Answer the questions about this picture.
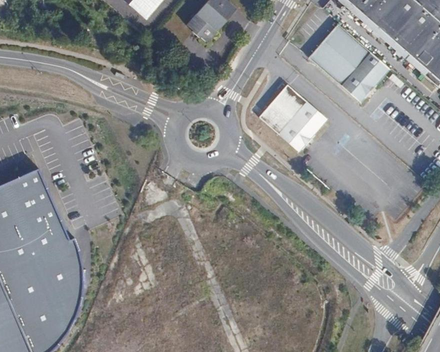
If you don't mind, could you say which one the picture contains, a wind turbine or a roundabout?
roundabout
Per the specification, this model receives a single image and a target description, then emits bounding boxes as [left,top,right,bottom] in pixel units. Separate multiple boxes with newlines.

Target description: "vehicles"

[68,212,79,218]
[52,173,63,180]
[10,114,18,124]
[88,162,100,170]
[406,92,416,101]
[399,117,409,126]
[207,150,218,157]
[429,112,438,122]
[404,121,414,130]
[82,148,93,156]
[408,125,418,134]
[84,156,95,162]
[424,108,434,117]
[390,110,399,119]
[266,170,276,179]
[54,178,65,186]
[414,145,425,156]
[420,104,430,113]
[385,106,394,115]
[401,88,410,97]
[224,106,230,116]
[412,128,422,138]
[432,158,440,169]
[415,100,425,110]
[394,114,404,123]
[410,96,420,105]
[218,88,228,98]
